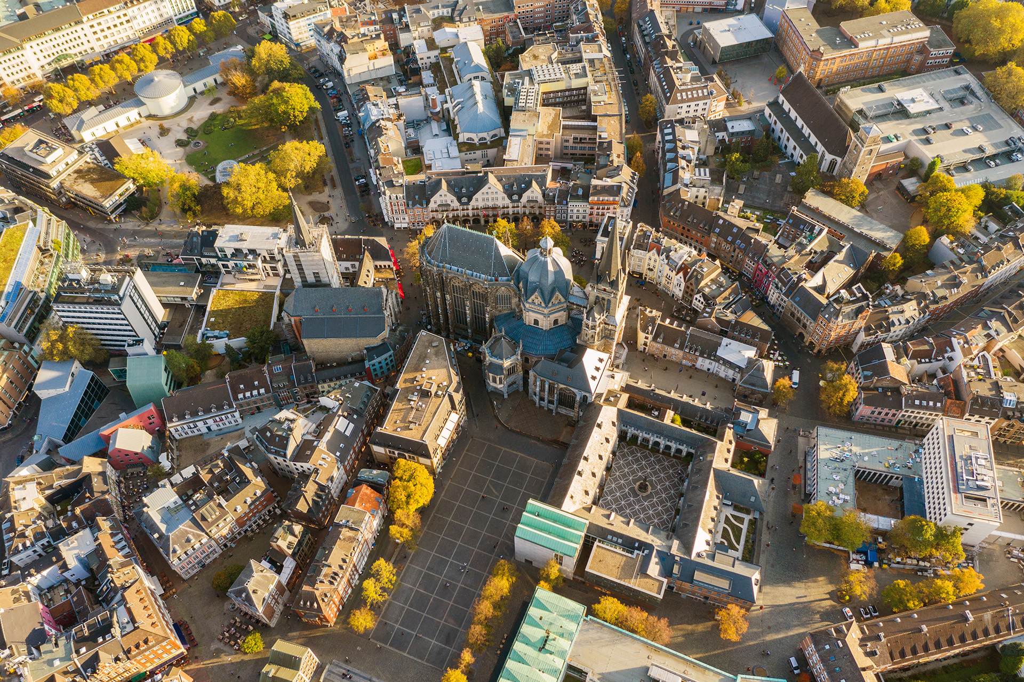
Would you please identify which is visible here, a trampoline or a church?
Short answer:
church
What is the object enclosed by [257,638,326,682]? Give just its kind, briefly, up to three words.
house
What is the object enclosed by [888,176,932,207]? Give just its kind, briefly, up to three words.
building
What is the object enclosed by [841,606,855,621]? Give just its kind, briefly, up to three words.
car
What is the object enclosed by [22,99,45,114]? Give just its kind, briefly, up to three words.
vehicle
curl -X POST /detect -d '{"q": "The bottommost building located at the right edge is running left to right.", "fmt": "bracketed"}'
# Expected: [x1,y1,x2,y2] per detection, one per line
[789,583,1024,682]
